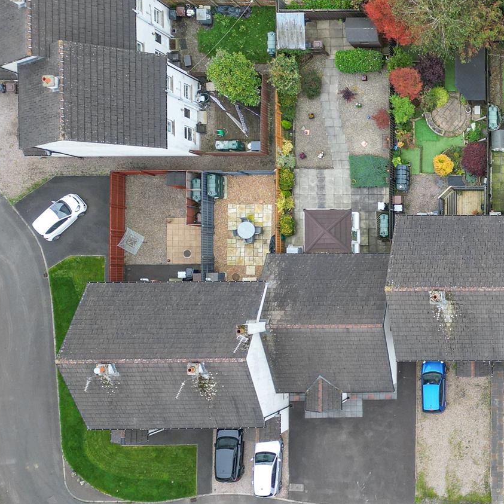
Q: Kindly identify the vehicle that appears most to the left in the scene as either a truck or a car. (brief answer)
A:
car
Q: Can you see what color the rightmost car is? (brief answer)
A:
blue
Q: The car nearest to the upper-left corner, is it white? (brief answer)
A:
Yes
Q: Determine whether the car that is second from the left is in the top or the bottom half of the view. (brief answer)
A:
bottom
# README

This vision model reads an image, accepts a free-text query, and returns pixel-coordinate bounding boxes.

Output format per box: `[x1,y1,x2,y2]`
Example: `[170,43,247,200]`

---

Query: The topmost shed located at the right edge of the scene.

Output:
[455,46,488,106]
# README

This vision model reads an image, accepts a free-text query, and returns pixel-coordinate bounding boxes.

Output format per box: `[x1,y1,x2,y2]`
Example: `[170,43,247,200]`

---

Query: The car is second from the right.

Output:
[252,441,286,497]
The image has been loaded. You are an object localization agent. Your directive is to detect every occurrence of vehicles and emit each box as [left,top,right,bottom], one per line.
[30,194,94,242]
[419,363,447,413]
[212,431,246,484]
[252,441,286,497]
